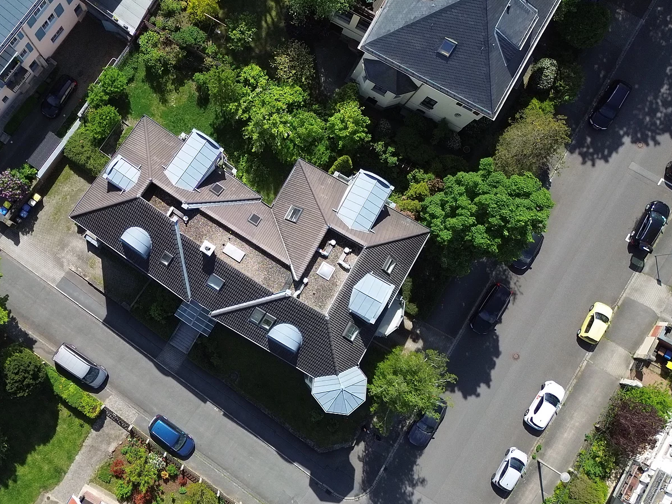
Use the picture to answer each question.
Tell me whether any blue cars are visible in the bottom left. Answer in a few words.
Yes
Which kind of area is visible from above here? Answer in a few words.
residential area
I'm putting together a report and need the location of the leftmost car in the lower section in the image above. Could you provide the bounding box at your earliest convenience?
[52,341,109,391]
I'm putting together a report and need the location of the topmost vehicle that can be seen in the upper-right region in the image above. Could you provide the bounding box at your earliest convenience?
[589,77,634,131]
